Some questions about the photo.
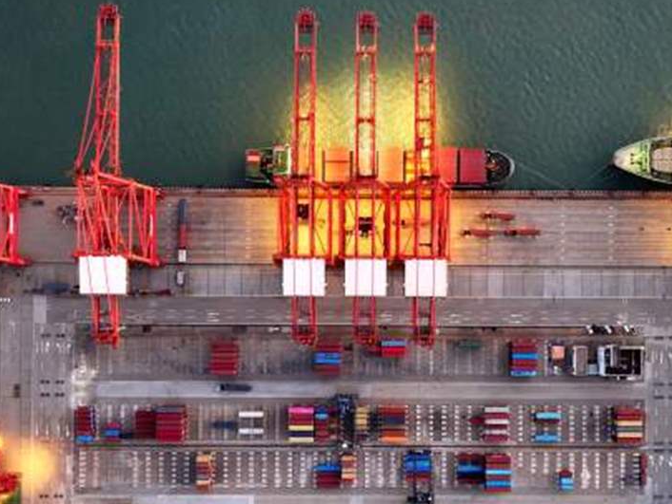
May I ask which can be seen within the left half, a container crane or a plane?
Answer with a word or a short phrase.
container crane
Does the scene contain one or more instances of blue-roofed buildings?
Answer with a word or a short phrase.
No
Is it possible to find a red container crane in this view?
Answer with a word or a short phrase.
Yes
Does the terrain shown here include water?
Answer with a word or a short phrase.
Yes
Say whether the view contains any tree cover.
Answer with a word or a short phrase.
No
